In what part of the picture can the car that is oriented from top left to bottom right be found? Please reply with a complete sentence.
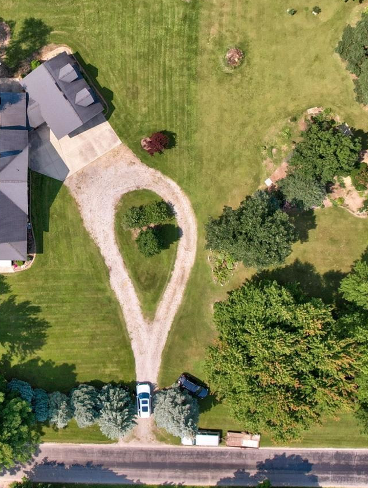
Look in the bottom portion of the view to spot the car that is oriented from top left to bottom right.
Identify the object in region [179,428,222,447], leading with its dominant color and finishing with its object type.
white vehicle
